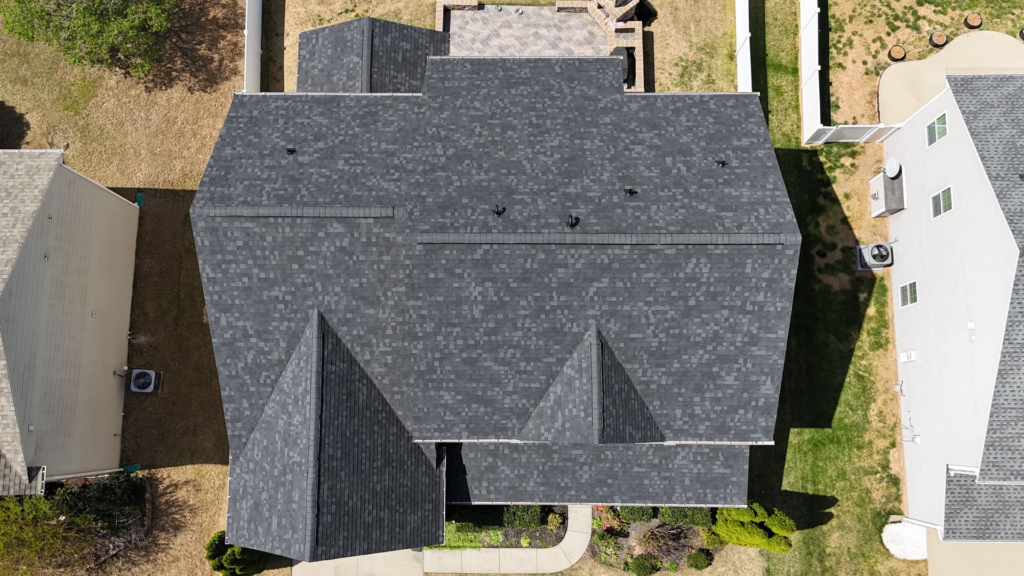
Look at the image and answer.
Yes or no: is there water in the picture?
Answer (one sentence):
No, there's no water in this view.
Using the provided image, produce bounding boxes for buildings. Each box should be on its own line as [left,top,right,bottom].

[0,149,144,494]
[870,73,1024,543]
[191,17,801,561]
